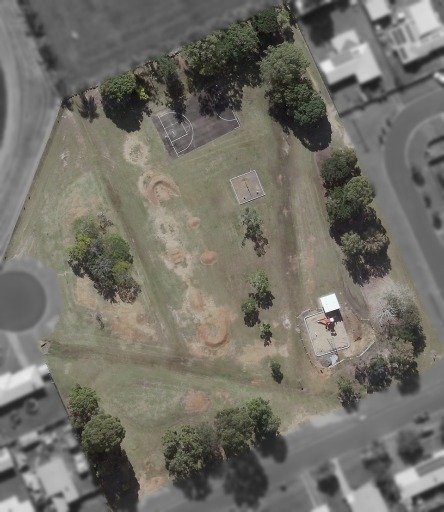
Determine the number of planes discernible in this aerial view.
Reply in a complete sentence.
No planes are visible.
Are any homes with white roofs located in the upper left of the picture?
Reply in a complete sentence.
No, there's no home with a white roof to be seen in the upper left of the picture.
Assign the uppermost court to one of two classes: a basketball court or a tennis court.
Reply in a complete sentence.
The uppermost court can be classified as a basketball court.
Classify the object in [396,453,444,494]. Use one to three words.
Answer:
house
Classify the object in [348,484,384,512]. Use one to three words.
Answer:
house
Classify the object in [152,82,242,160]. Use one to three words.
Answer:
basketball court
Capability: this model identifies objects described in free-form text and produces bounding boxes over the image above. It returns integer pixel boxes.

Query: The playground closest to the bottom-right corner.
[304,306,350,356]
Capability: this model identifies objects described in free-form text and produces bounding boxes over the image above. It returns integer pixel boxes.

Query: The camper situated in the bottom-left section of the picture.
[74,454,88,472]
